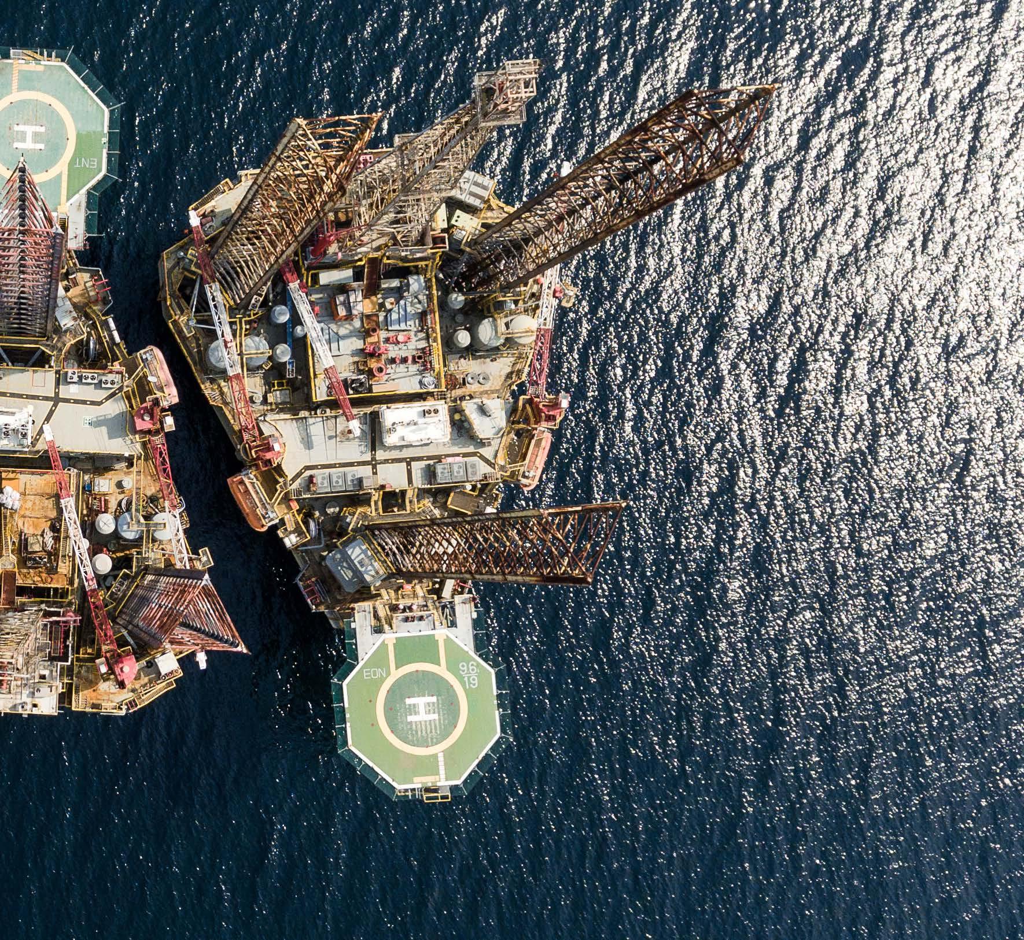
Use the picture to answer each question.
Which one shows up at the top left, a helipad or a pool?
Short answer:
helipad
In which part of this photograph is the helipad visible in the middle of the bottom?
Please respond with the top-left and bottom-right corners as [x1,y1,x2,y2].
[325,582,518,805]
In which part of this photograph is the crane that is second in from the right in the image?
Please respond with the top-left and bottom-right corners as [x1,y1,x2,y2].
[257,224,364,442]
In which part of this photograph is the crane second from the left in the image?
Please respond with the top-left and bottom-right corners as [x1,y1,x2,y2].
[135,399,192,565]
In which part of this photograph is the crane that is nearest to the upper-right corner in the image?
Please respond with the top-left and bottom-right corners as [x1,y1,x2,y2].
[521,164,571,434]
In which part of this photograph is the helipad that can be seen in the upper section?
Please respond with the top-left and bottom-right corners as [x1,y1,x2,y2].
[0,44,122,275]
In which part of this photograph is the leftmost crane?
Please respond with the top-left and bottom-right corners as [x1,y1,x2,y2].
[44,424,138,689]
